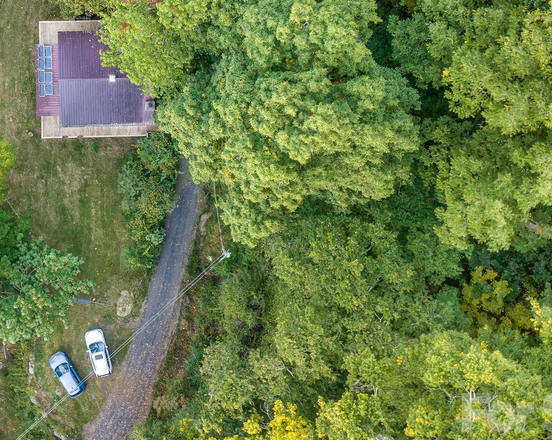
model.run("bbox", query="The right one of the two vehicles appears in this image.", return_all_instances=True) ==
[85,325,113,381]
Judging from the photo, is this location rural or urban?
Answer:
rural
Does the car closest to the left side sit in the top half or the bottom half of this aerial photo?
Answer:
bottom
